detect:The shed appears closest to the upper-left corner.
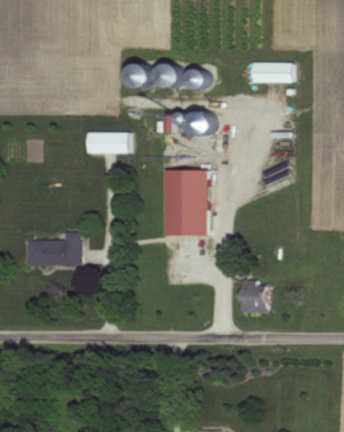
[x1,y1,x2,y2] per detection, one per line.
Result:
[84,132,134,154]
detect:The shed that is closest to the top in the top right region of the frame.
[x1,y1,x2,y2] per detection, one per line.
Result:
[250,62,298,83]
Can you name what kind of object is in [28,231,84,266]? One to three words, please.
house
